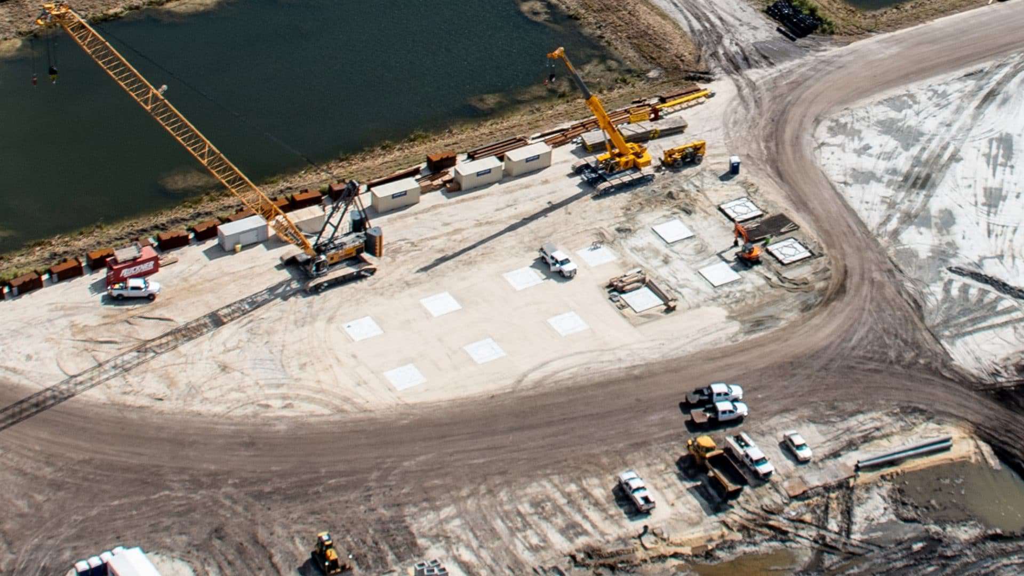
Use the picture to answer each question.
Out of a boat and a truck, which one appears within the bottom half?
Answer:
truck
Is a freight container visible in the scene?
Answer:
Yes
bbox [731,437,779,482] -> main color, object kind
white truck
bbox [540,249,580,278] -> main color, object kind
white truck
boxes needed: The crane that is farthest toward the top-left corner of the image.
[39,5,386,294]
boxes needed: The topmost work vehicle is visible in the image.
[654,137,708,169]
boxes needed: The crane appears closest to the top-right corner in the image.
[550,47,656,194]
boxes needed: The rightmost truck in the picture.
[782,432,813,464]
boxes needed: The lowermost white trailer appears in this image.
[112,547,159,576]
